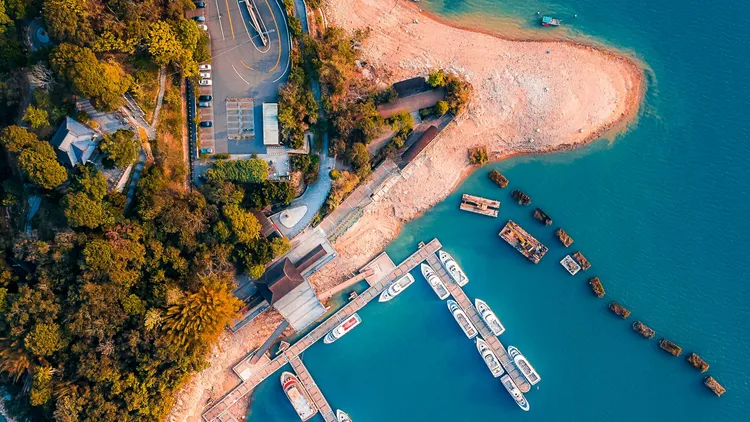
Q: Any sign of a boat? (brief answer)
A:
Yes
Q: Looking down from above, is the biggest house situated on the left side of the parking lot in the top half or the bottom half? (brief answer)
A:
top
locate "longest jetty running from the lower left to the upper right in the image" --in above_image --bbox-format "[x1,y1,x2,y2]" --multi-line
[201,239,441,418]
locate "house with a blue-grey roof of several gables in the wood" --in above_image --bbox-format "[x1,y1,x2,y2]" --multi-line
[51,116,100,166]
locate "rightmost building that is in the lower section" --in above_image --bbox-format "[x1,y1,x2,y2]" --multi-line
[293,244,327,274]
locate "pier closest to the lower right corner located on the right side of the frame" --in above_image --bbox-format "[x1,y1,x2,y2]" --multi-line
[422,257,529,392]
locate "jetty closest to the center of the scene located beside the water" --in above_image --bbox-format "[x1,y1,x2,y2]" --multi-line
[360,251,393,283]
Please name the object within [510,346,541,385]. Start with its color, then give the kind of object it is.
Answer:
white boat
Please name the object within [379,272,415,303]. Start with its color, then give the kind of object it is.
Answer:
white boat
